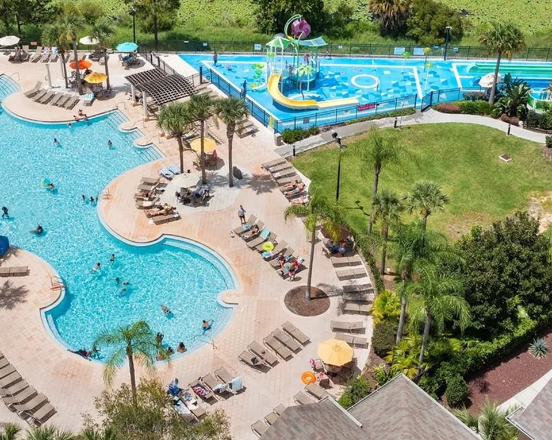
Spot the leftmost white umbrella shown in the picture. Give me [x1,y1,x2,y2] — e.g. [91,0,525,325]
[0,37,19,65]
